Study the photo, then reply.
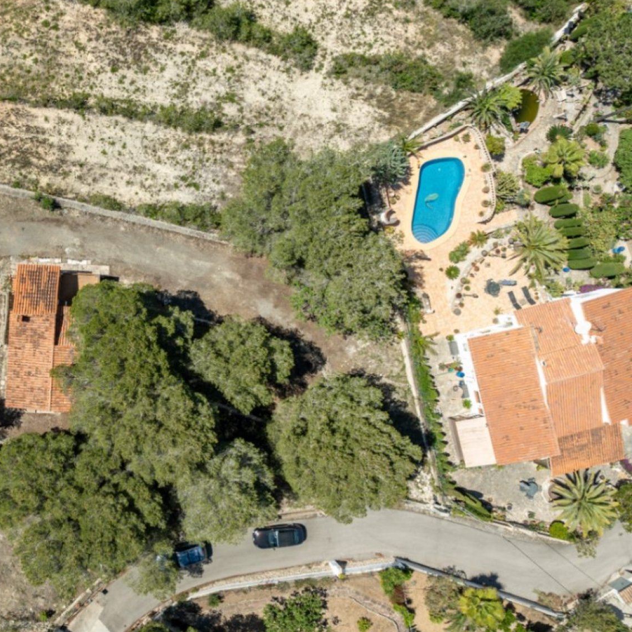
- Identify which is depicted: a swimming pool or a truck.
swimming pool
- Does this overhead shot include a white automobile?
No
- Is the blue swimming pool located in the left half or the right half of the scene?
right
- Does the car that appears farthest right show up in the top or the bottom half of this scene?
bottom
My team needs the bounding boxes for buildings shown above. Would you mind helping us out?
[5,257,110,414]
[593,564,632,606]
[444,277,632,476]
